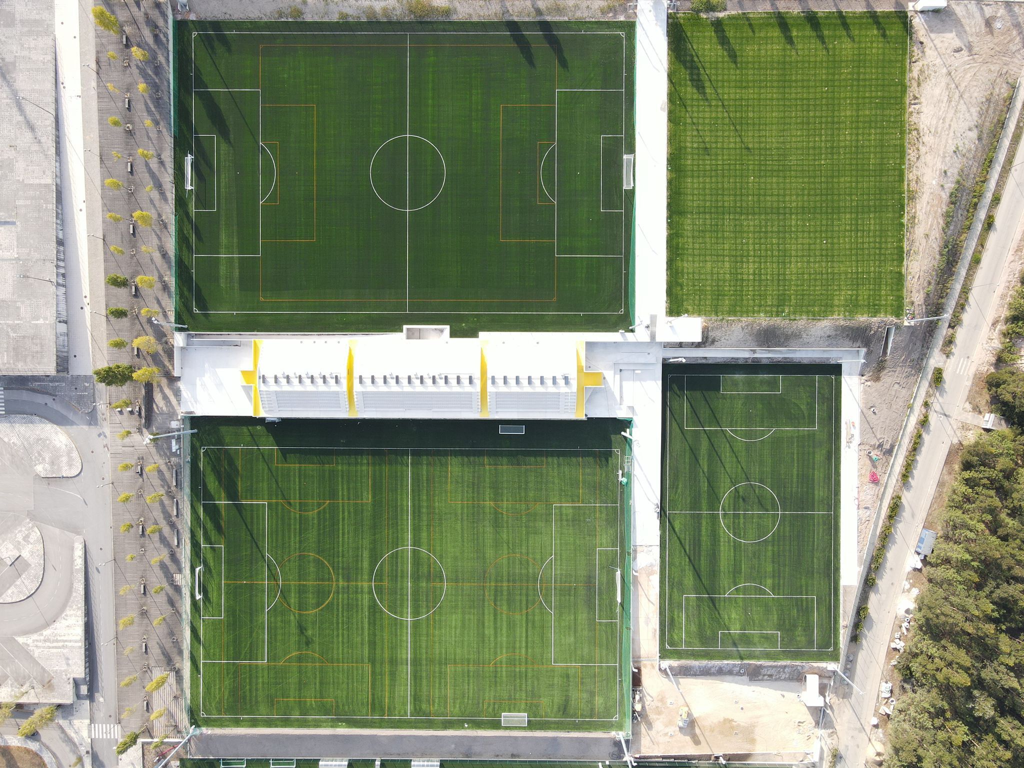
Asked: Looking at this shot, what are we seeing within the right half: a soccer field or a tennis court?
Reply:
soccer field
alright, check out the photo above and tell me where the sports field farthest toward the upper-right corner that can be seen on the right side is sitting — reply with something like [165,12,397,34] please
[666,10,909,318]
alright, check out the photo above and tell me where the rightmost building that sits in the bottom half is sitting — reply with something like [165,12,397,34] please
[914,530,941,560]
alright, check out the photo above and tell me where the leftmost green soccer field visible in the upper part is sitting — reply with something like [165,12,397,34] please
[175,21,635,338]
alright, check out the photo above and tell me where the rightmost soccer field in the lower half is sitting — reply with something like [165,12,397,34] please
[660,364,842,662]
